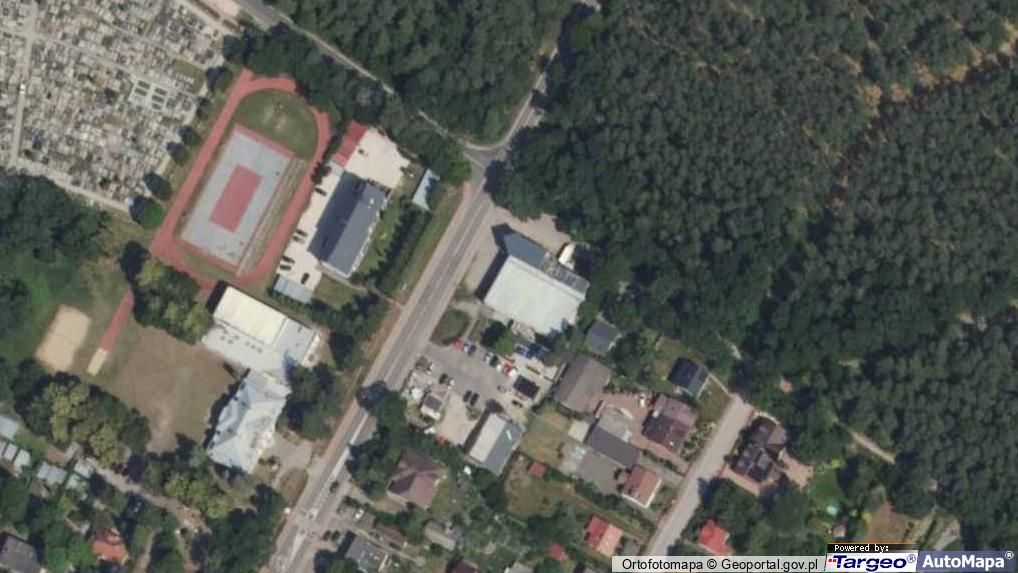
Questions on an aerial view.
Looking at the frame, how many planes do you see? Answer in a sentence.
The picture shows no planes.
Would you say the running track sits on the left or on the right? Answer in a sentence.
The running track sits on the left side.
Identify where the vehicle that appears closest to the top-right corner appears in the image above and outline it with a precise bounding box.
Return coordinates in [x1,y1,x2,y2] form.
[560,244,576,265]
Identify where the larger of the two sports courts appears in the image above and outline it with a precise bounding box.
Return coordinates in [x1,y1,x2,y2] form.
[176,122,298,276]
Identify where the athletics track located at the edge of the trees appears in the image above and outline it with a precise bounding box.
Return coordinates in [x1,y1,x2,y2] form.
[150,68,330,289]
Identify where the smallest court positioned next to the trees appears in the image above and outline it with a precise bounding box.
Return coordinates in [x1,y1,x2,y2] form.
[35,305,91,372]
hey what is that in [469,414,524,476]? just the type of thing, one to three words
shed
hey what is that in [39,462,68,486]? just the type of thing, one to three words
building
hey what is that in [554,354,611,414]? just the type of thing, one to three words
barn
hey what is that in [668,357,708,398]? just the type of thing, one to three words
house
